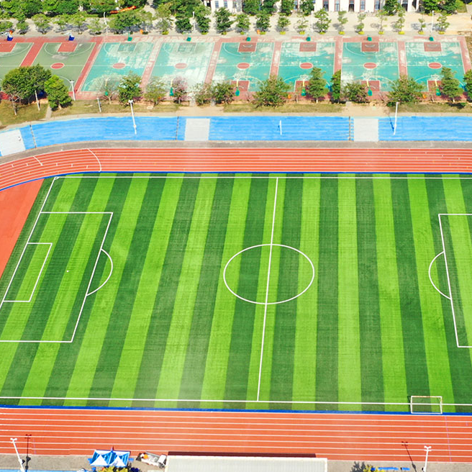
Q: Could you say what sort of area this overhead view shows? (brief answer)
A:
sports ground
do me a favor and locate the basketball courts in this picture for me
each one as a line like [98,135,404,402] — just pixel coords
[338,35,407,99]
[272,35,338,99]
[73,36,161,100]
[0,37,42,100]
[7,36,101,100]
[140,36,218,100]
[400,35,472,99]
[204,36,278,99]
